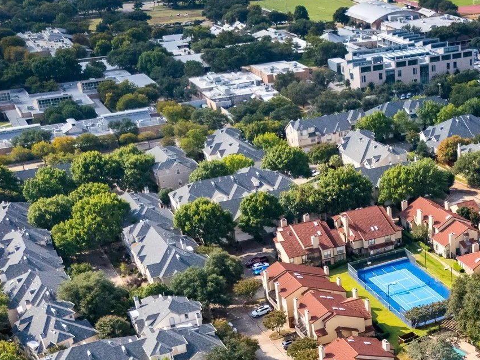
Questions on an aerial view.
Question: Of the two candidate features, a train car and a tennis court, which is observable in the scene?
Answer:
tennis court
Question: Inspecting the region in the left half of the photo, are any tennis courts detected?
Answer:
No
